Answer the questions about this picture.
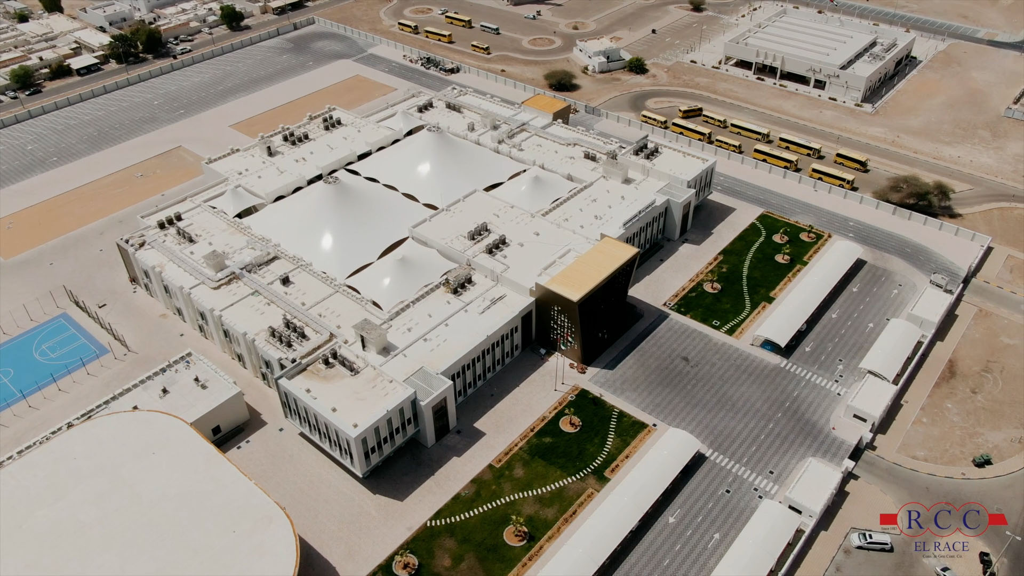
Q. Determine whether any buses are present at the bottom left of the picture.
No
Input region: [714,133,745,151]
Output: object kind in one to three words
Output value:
vehicle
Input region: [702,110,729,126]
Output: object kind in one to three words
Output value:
vehicle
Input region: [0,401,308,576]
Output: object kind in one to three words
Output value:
building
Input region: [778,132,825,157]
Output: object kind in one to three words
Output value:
bus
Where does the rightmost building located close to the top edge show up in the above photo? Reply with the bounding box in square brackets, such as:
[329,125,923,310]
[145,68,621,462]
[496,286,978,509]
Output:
[722,6,919,102]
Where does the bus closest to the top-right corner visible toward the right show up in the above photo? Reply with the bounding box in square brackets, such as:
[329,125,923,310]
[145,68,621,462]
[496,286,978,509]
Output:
[833,148,873,171]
